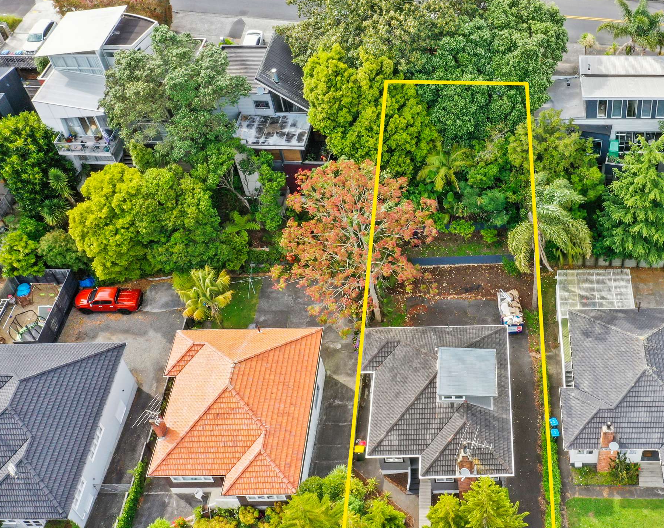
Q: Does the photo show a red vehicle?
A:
Yes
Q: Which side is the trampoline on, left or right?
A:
left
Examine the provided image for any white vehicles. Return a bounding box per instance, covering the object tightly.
[18,17,60,54]
[239,28,266,46]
